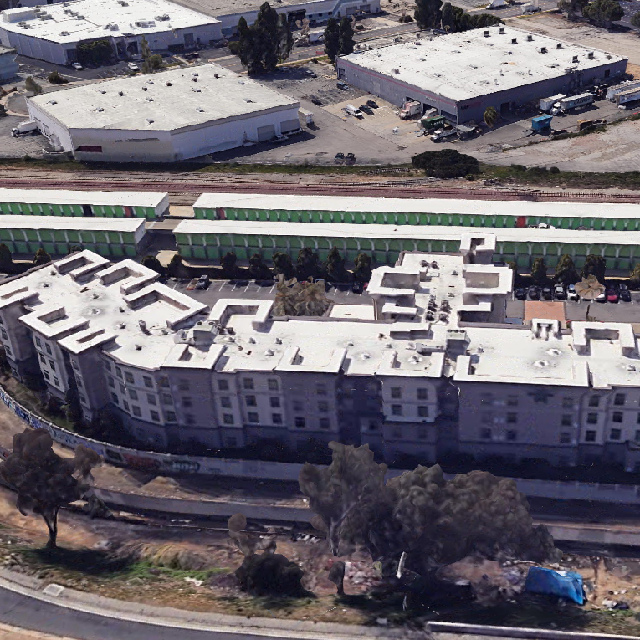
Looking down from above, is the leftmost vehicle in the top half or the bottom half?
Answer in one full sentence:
The leftmost vehicle sits in the top half of the picture.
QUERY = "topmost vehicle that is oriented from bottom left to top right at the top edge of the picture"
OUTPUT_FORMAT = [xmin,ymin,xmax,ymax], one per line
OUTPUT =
[303,27,324,44]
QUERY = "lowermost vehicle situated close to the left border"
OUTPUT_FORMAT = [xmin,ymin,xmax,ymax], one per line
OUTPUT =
[10,115,38,136]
